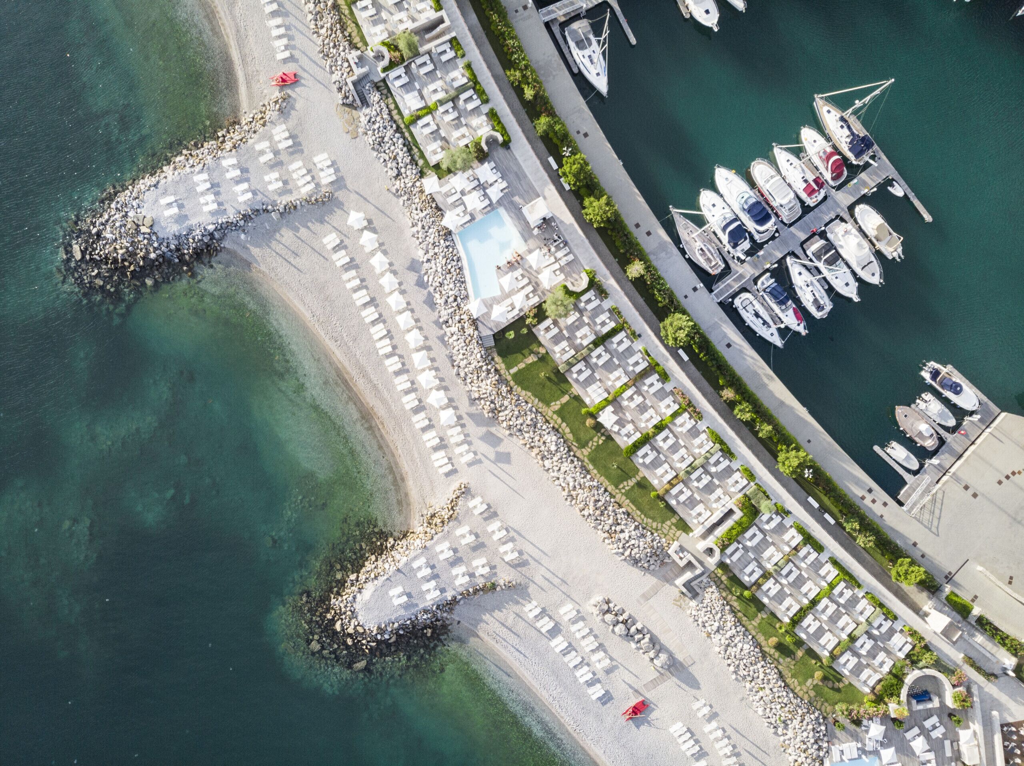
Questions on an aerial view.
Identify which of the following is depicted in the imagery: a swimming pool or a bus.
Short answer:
swimming pool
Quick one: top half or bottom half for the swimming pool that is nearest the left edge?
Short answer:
top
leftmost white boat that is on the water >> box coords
[568,8,614,100]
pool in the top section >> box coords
[451,206,528,303]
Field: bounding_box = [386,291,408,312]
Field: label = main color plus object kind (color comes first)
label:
white umbrella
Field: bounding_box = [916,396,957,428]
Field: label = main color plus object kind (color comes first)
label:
white boat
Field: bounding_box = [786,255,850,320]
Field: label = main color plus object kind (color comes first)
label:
white boat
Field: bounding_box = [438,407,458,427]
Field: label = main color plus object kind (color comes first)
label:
white umbrella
